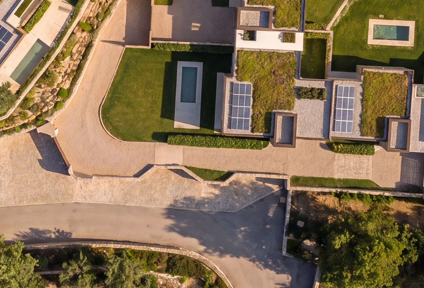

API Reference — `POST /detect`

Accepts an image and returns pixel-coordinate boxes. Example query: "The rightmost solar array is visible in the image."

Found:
[335,85,355,132]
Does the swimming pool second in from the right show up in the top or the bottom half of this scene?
top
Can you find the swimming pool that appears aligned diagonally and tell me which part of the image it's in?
top left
